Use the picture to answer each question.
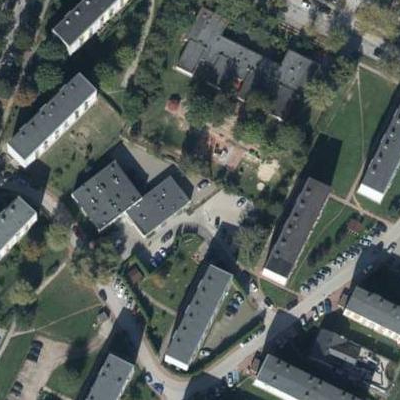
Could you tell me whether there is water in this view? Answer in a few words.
No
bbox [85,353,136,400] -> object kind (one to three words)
building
